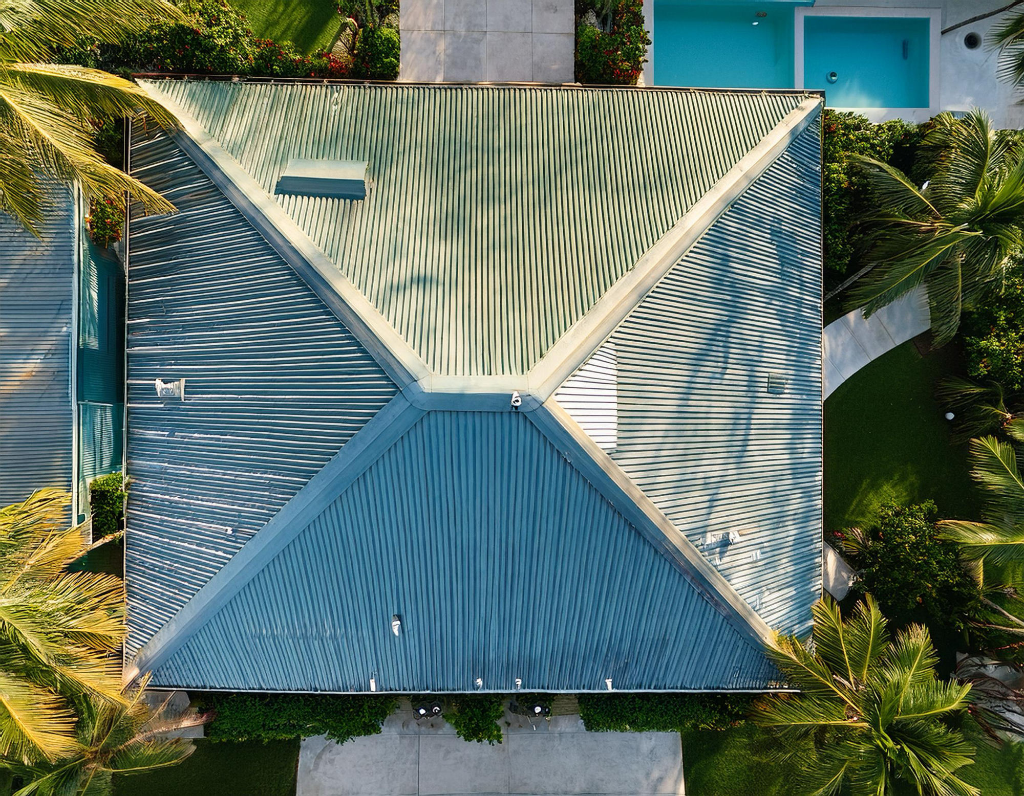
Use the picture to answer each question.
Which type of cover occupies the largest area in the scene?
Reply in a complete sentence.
The largest share of the image is taken up by buildings.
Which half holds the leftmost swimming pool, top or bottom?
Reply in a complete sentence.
The leftmost swimming pool is in the top half of the image.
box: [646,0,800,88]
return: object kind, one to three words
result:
swimming pool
